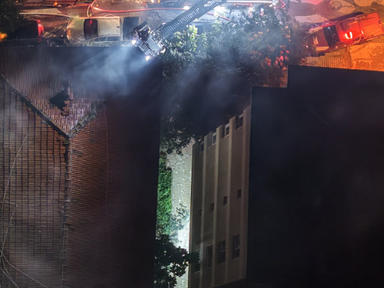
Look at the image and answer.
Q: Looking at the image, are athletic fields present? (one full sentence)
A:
No, no athletic field is visible in the scene.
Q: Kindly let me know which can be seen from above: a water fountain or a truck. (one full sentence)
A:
Looking from above, you can make out a truck.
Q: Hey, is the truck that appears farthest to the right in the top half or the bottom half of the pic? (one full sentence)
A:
The truck that appears farthest to the right sits in the top half of the picture.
